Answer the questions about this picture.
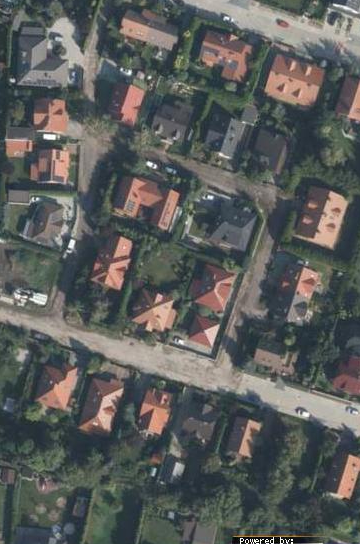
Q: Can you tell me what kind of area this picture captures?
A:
residential area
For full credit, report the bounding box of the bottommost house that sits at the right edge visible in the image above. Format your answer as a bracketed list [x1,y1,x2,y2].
[323,453,360,500]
